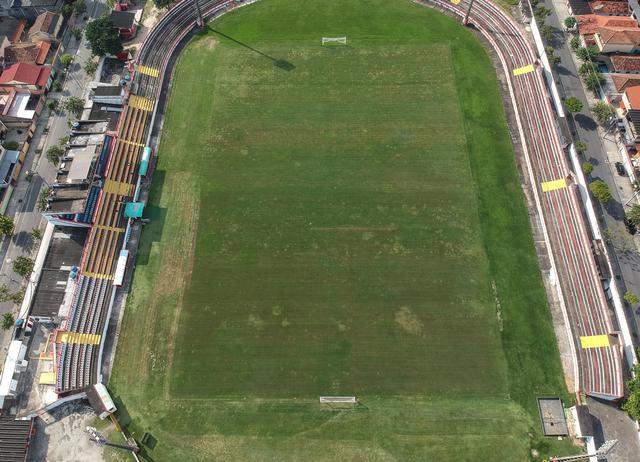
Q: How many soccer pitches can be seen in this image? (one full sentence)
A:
There is 1 soccer pitch in the image.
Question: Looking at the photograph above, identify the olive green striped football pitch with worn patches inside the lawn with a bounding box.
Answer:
[164,40,514,403]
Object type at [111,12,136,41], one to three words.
house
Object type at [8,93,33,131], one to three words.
house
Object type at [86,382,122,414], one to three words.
building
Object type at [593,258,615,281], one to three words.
shed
